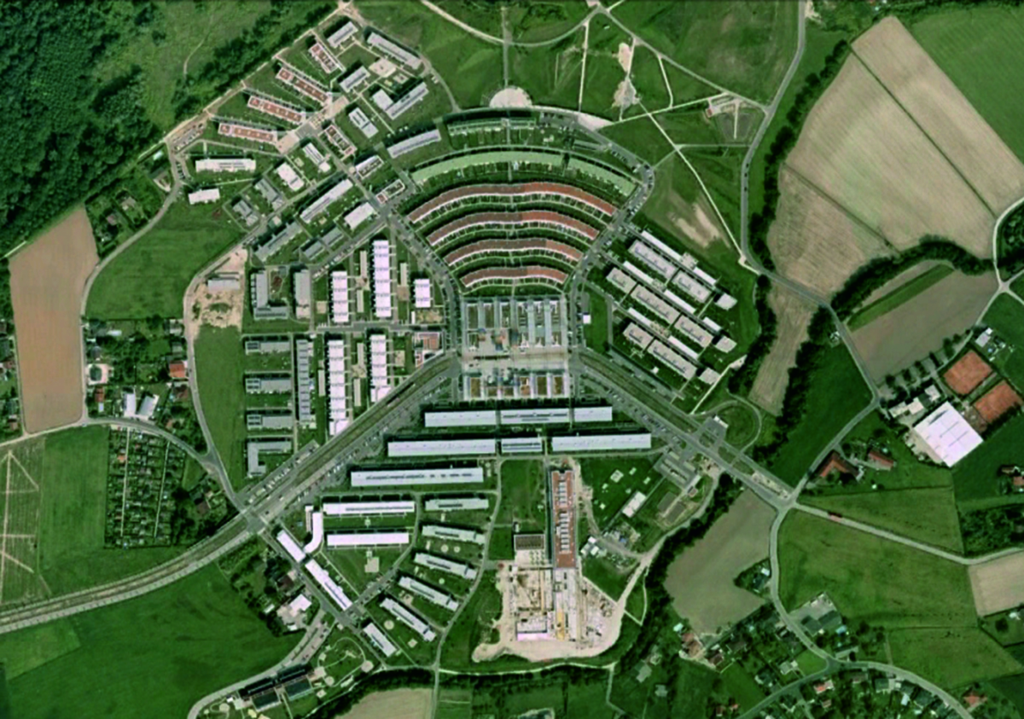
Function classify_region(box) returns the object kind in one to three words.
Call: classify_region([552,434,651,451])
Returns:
building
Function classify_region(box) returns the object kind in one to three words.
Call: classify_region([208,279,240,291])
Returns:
shed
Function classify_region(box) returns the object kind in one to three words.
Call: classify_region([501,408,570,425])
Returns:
building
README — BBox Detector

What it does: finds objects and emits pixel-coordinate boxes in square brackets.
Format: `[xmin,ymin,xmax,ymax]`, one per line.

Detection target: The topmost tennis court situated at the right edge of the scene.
[944,351,992,394]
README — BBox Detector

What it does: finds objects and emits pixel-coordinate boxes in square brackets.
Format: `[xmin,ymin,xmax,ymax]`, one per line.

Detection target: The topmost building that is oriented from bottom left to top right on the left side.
[327,21,359,48]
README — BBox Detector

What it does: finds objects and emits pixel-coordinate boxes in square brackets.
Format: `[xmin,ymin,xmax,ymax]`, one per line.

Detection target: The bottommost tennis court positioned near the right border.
[975,380,1022,423]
